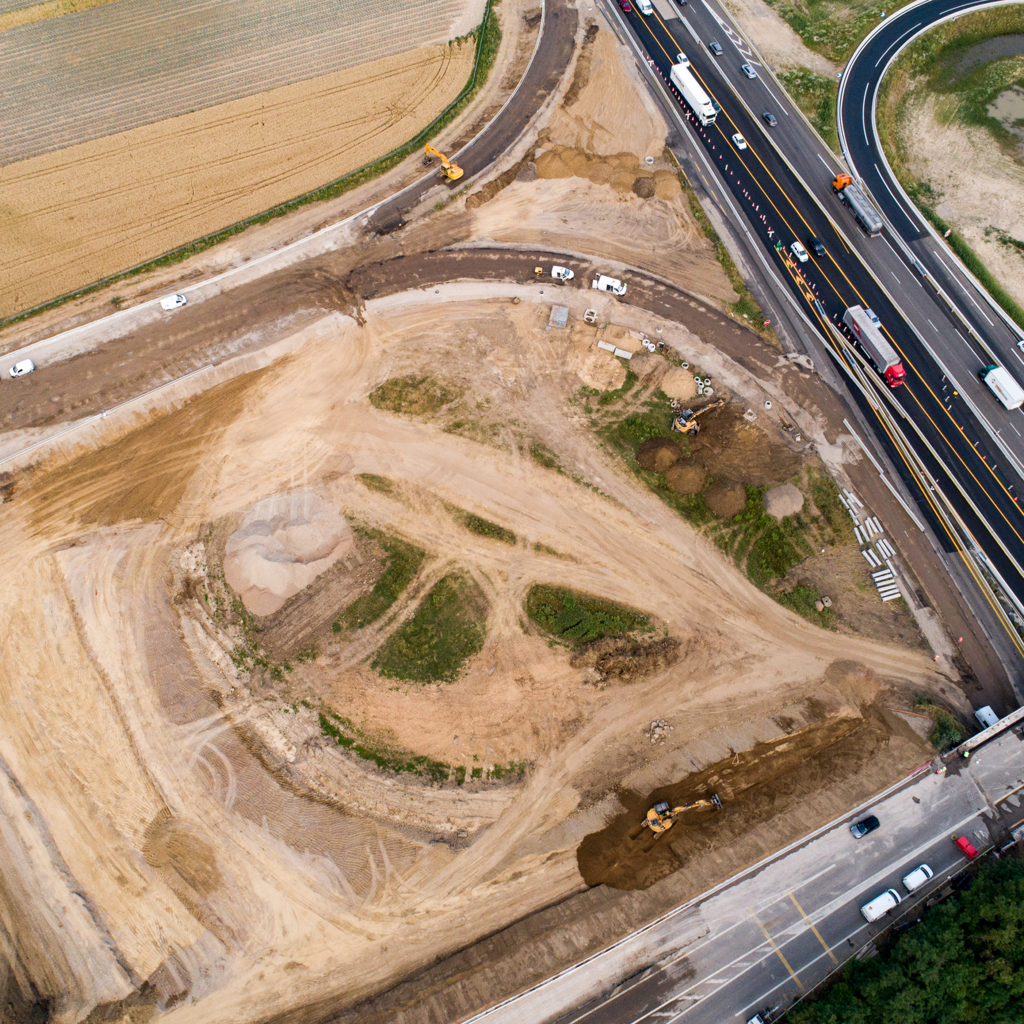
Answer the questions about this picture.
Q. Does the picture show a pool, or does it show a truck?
truck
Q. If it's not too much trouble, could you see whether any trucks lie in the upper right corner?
Yes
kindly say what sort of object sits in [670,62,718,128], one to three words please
truck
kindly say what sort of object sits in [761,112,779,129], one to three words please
car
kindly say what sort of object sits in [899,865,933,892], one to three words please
vehicle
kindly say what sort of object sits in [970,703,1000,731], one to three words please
van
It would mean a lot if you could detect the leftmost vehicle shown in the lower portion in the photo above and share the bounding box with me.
[641,796,722,842]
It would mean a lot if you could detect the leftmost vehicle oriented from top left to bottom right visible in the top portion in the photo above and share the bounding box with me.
[423,138,470,189]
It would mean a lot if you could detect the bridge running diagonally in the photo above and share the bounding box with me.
[942,706,1024,764]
